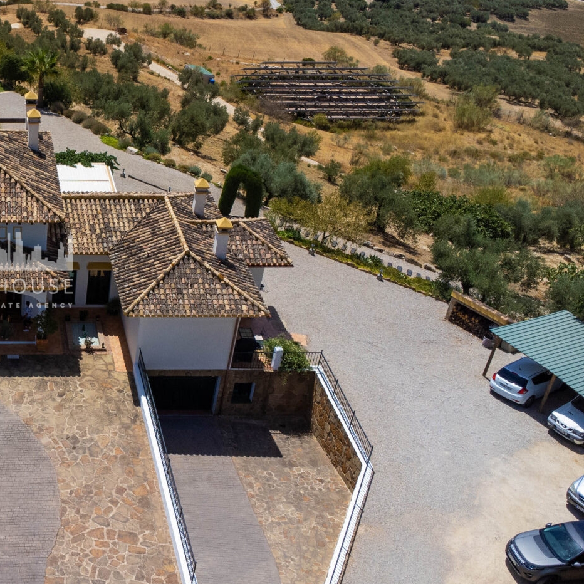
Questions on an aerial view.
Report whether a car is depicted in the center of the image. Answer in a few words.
No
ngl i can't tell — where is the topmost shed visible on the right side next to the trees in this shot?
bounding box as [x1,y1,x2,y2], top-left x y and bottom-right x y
[442,290,521,354]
